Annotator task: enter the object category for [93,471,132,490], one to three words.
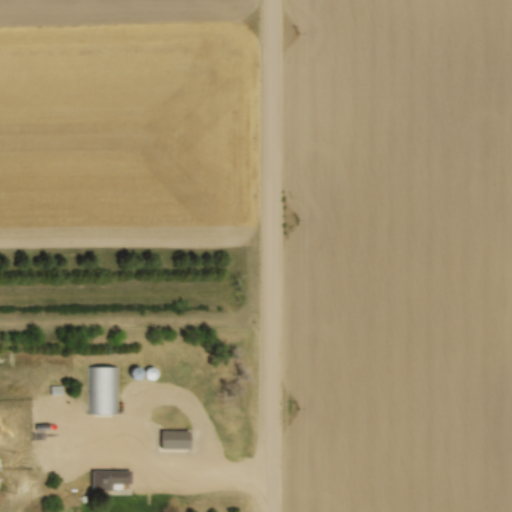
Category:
house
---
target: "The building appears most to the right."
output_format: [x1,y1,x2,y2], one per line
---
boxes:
[162,430,193,449]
